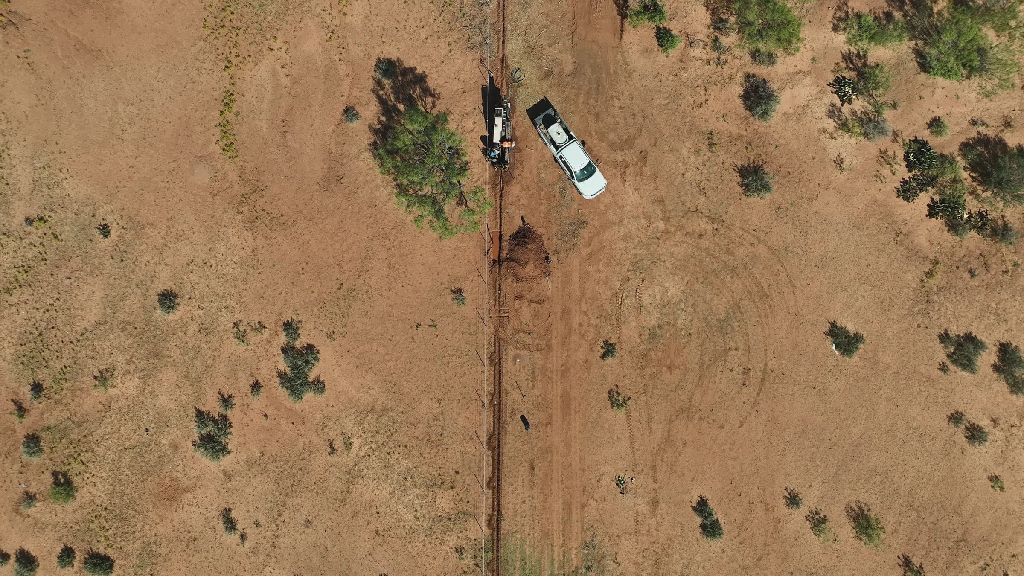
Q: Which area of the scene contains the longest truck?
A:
top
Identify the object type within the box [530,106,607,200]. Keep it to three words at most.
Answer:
truck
